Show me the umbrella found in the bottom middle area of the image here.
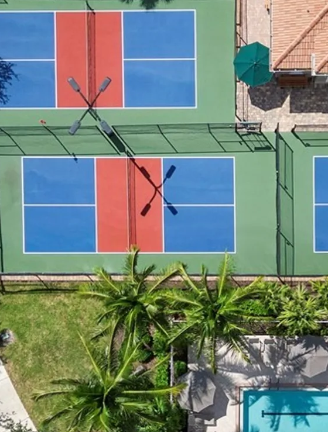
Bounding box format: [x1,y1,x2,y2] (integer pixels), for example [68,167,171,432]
[176,368,218,410]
